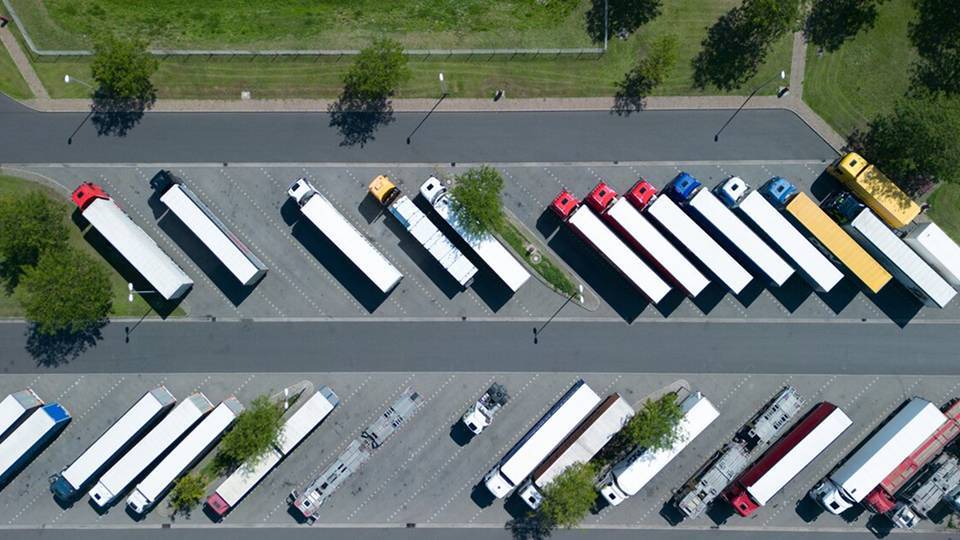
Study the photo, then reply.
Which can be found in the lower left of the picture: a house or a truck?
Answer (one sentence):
The one visible in the lower left of the picture is a truck.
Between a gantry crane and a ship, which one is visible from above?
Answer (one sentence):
Looking from above, you can make out a ship.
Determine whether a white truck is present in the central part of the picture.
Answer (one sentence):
Yes, looking in the central part of the picture, one can make out a white truck.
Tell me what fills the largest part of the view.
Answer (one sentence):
Most of the picture is covered by paved ground.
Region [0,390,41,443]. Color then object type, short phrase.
white truck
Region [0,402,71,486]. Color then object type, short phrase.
white truck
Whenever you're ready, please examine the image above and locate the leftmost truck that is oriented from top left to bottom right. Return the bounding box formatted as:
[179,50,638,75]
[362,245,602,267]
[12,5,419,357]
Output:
[71,180,194,299]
